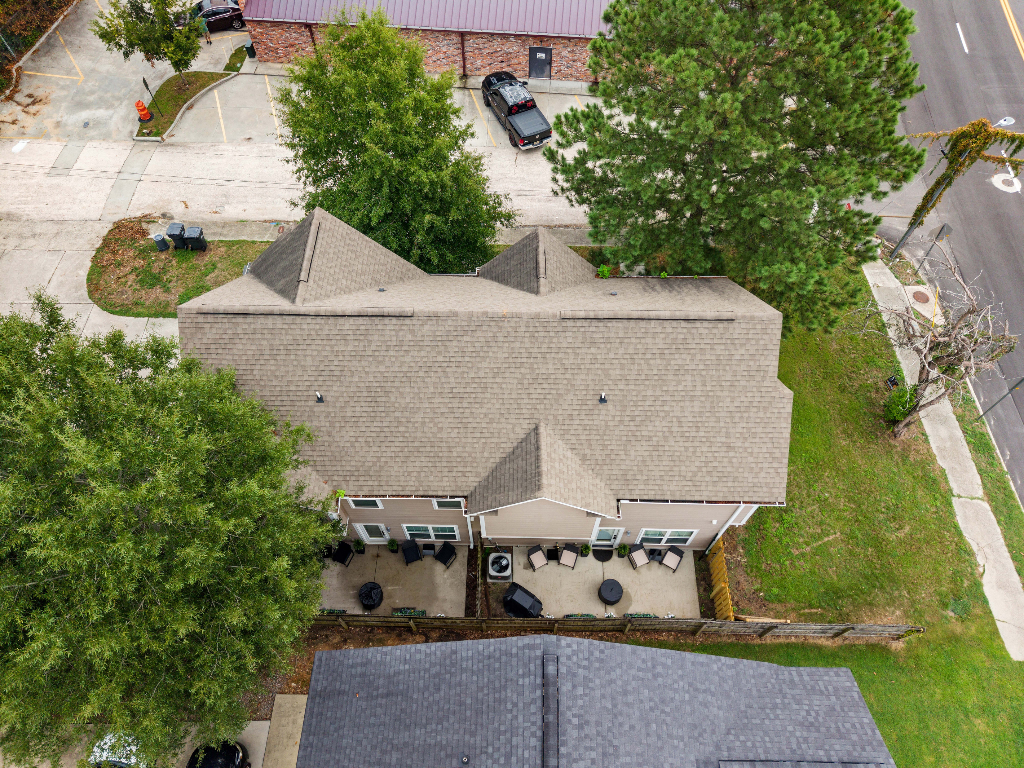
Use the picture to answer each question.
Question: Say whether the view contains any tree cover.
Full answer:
Yes, there is tree cover in the image.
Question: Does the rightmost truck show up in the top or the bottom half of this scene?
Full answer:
It is in the top half that the rightmost truck appears.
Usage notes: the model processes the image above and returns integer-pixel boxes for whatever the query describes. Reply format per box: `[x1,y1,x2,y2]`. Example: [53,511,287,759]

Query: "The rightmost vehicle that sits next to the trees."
[482,71,559,152]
